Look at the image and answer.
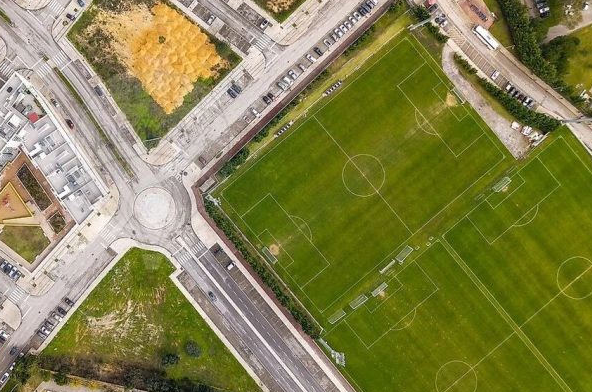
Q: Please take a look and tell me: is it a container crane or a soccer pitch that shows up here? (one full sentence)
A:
Of the two, only a soccer pitch appears.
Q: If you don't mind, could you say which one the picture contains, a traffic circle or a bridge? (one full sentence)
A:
This aerial view contains a traffic circle.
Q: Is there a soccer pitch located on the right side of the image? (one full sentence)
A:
Yes, looking on the right side of the image, one can make out a soccer pitch.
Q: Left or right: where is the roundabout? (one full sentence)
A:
The roundabout sits on the left side.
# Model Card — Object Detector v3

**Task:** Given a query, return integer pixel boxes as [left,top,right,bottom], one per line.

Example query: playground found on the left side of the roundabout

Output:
[0,183,32,221]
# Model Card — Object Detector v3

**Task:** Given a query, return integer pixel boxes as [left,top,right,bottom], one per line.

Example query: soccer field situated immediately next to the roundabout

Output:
[212,27,515,323]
